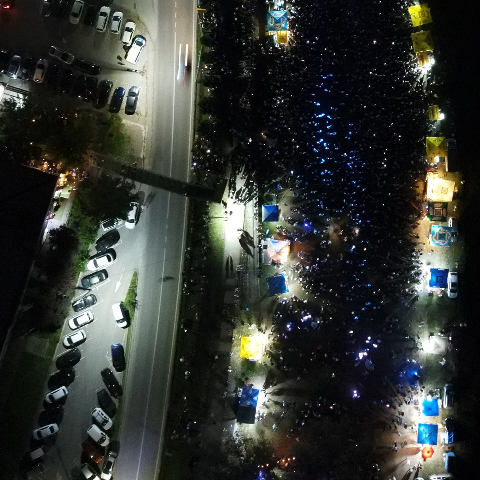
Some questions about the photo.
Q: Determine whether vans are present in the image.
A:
Yes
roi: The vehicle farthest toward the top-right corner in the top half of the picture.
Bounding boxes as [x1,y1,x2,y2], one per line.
[445,138,460,170]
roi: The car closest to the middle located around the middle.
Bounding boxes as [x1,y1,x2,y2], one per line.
[259,239,272,266]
